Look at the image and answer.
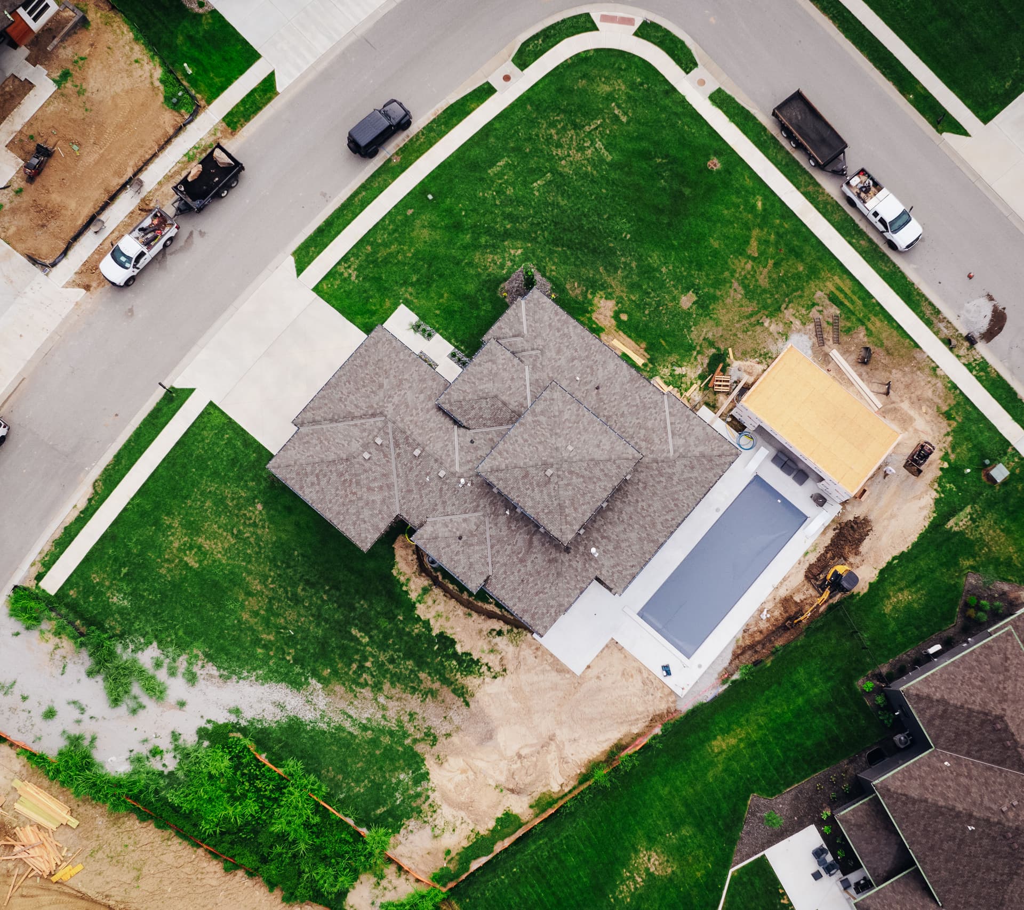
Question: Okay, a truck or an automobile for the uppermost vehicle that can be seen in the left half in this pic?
automobile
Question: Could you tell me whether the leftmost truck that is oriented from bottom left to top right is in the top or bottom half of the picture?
top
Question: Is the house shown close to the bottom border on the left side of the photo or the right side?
right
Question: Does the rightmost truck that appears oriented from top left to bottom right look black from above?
No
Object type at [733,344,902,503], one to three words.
building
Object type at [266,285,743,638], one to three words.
house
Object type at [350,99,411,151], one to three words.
car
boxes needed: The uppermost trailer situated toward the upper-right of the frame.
[770,90,847,176]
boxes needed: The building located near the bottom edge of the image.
[831,604,1024,910]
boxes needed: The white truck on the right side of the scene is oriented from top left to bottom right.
[840,170,919,254]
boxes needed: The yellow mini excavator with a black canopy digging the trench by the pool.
[787,567,863,629]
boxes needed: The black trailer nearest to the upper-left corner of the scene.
[173,145,244,218]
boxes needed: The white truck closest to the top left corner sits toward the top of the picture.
[105,210,181,290]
